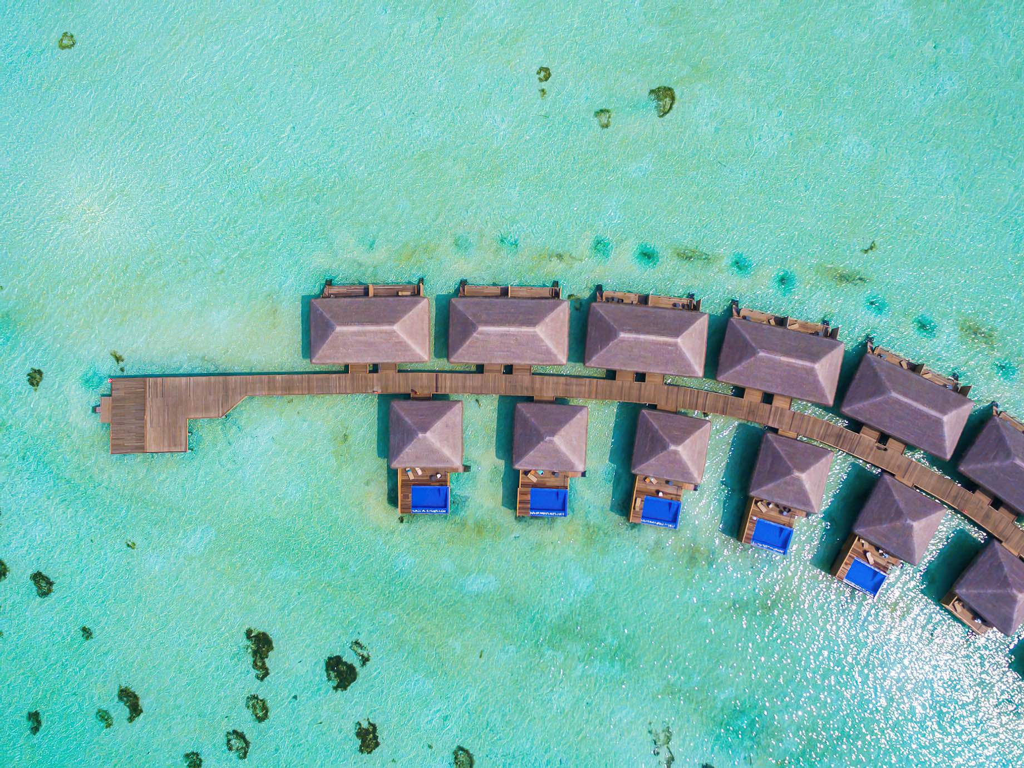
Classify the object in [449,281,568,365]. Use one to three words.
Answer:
house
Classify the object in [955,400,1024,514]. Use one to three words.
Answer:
house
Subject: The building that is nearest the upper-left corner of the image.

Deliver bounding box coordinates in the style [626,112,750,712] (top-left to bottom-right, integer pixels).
[311,279,429,364]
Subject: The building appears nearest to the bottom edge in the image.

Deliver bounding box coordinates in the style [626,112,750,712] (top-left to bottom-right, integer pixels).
[932,540,1024,637]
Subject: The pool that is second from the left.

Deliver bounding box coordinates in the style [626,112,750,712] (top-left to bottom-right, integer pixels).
[529,488,568,518]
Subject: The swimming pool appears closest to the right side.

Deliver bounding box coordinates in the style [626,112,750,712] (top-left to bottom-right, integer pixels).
[842,556,887,600]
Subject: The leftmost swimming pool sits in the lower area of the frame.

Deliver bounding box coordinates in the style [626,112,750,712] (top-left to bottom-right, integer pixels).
[411,485,450,514]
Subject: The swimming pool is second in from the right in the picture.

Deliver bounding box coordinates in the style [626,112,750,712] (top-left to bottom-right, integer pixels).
[750,518,793,555]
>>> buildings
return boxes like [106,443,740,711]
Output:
[449,281,568,365]
[737,433,832,544]
[840,338,973,460]
[513,403,587,517]
[585,286,708,377]
[391,401,472,516]
[627,410,710,522]
[717,302,844,406]
[829,475,945,581]
[932,540,1024,637]
[955,400,1024,514]
[311,279,429,364]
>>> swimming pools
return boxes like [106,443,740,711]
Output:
[842,556,887,600]
[750,518,793,555]
[529,488,568,518]
[411,485,450,514]
[641,495,681,529]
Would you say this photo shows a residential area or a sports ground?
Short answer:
residential area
